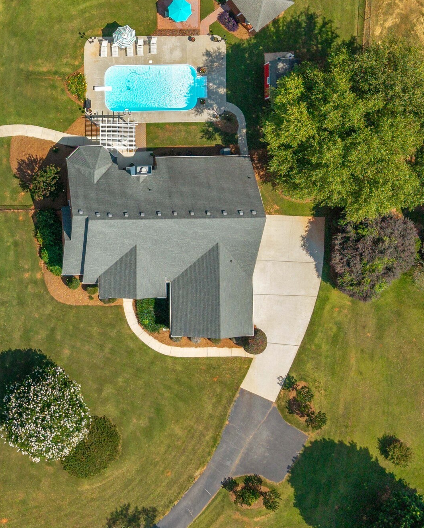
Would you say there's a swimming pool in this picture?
Yes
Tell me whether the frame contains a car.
No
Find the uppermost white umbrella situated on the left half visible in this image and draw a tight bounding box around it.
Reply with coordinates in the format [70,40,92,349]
[112,24,136,48]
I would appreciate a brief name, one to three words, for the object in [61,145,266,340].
house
